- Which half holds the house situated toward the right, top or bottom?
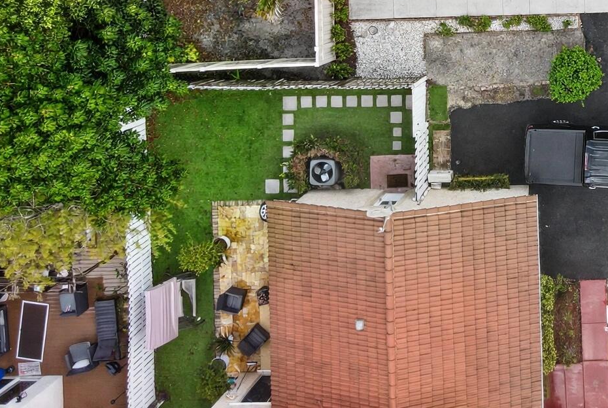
bottom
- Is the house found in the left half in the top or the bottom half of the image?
bottom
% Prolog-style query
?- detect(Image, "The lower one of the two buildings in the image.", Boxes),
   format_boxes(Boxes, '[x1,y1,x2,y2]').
[0,377,62,408]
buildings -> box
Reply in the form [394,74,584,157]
[200,185,539,408]
[0,377,62,408]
